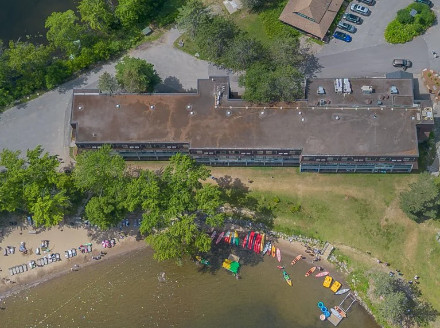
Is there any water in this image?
Yes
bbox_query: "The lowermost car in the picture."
[392,58,412,71]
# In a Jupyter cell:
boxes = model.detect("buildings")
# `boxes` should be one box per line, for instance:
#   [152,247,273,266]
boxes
[279,0,344,40]
[69,71,436,180]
